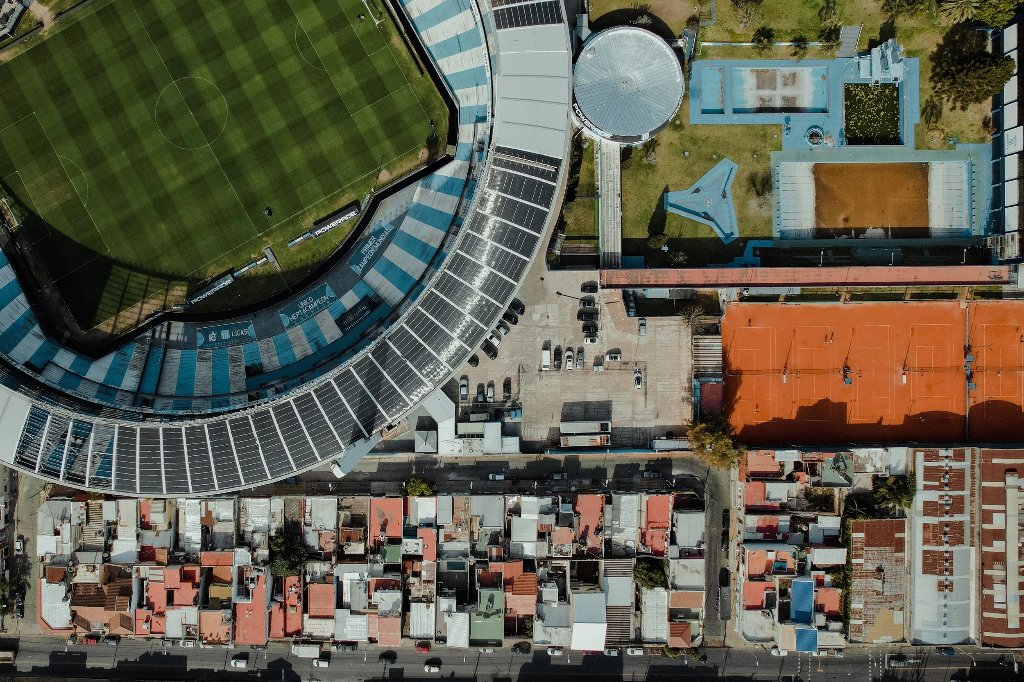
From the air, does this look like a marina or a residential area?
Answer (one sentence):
The picture captures a residential area.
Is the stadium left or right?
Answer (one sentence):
The stadium sits on the left side.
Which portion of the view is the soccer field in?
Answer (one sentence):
The soccer field appears toward the top left of the photo.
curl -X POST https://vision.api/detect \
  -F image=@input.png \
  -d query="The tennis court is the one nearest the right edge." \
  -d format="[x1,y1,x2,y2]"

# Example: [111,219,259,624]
[975,323,1024,420]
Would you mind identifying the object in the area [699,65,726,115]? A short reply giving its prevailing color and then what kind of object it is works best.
blue swimming pool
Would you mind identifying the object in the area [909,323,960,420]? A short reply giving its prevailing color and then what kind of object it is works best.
orange tennis court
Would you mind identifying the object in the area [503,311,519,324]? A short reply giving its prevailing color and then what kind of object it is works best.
black vehicle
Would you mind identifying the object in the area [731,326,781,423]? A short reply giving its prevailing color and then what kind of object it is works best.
orange tennis court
